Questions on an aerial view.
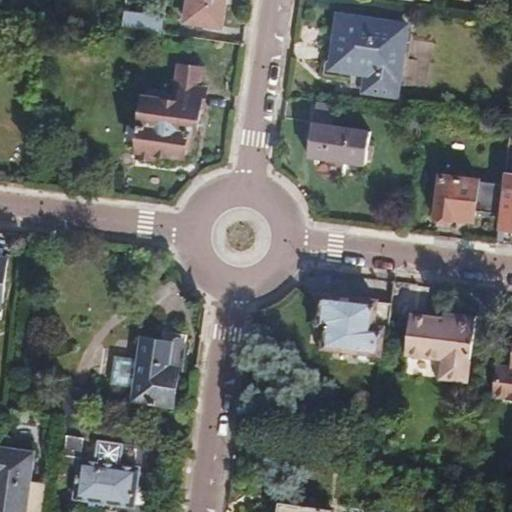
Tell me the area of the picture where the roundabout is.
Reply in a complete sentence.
You can find the roundabout in the center area of the picture.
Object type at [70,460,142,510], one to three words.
house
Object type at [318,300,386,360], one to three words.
house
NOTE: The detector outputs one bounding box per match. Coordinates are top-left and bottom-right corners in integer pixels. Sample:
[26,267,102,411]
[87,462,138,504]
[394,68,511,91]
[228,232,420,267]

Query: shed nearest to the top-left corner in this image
[122,11,164,32]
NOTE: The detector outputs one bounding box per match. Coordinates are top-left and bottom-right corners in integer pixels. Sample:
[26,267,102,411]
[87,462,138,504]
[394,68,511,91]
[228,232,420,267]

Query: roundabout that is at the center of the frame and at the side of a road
[172,168,310,304]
